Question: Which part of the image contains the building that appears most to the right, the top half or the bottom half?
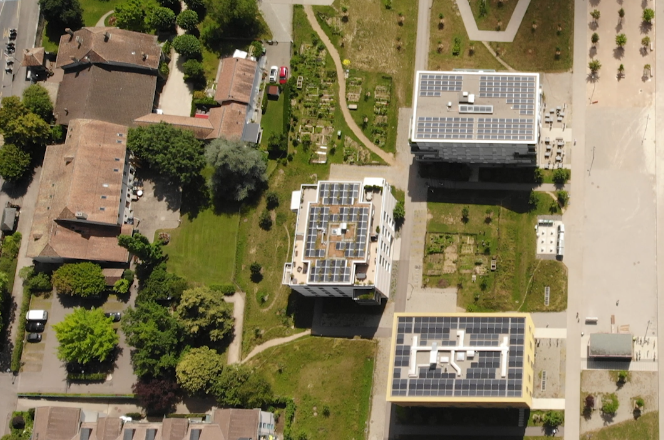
bottom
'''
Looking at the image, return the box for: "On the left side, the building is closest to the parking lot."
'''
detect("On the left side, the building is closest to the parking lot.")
[101,269,128,285]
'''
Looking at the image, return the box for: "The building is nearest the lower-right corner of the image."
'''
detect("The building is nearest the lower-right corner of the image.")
[589,333,631,358]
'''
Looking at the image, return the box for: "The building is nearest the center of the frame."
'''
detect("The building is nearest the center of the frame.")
[283,177,400,299]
